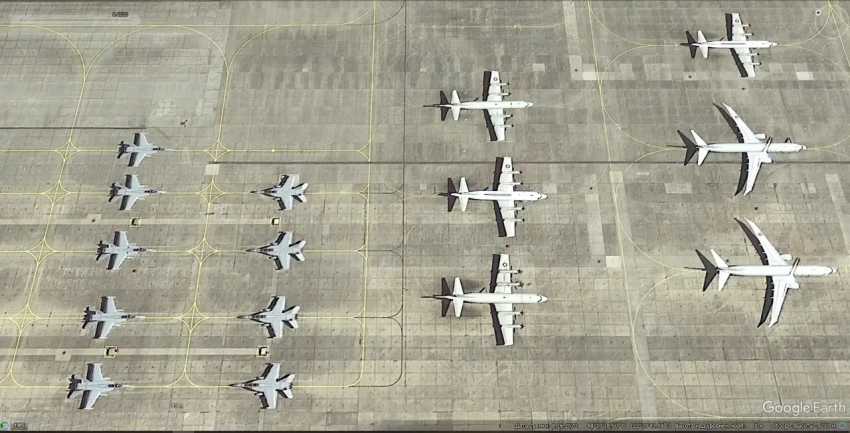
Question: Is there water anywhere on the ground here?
No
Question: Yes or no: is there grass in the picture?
No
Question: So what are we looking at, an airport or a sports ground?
airport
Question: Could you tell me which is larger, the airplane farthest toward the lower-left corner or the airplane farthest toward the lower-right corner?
the airplane farthest toward the lower-right corner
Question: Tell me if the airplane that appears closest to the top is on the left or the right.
right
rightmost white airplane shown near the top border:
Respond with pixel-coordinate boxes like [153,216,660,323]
[683,12,777,76]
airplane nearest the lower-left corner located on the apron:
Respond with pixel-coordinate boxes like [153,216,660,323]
[71,364,135,409]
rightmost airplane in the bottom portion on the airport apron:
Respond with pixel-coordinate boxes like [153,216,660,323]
[714,217,836,327]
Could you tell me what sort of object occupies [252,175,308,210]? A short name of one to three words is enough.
airplane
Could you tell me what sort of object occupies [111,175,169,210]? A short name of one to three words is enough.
airplane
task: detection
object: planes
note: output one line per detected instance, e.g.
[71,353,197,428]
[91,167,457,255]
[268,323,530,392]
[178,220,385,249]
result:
[435,70,533,140]
[86,298,149,338]
[120,134,176,167]
[247,232,305,270]
[714,217,836,327]
[683,12,777,76]
[239,297,300,338]
[434,253,547,345]
[230,364,295,409]
[71,364,135,409]
[694,103,806,195]
[252,175,308,210]
[100,232,159,270]
[111,175,169,210]
[441,157,547,236]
